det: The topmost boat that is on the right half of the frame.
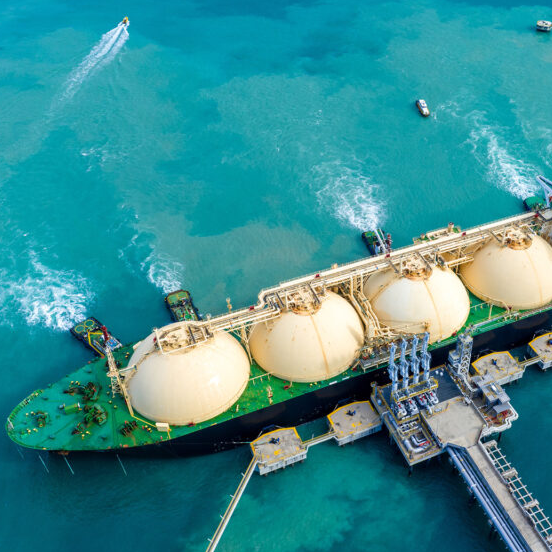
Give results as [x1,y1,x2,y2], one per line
[413,96,431,115]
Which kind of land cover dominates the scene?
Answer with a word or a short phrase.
water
